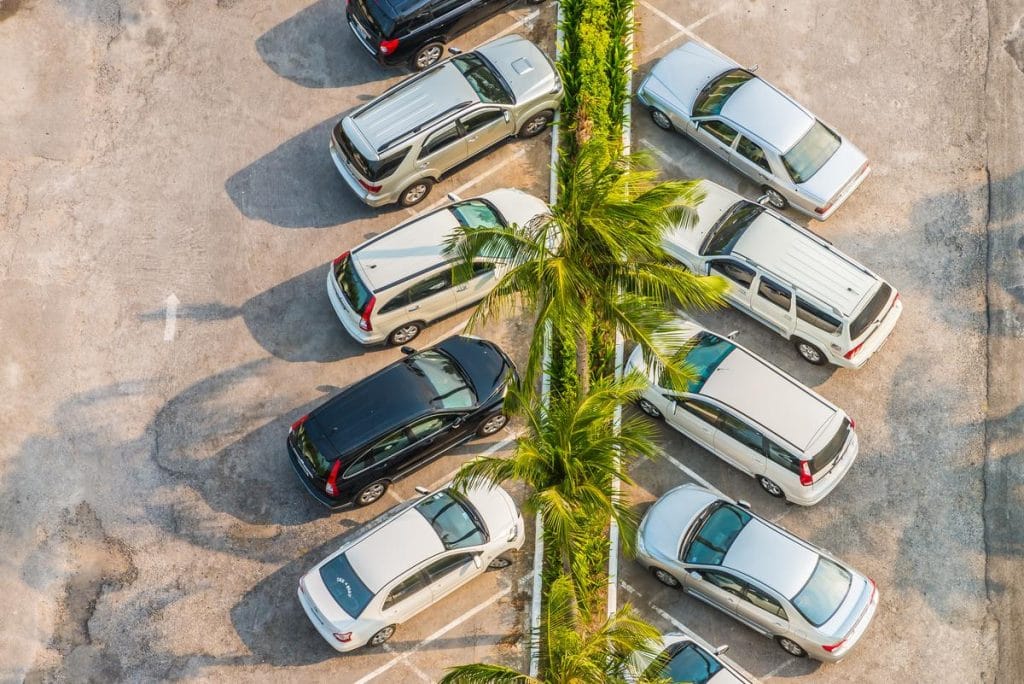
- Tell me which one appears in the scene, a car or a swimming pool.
car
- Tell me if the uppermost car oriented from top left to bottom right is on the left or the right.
right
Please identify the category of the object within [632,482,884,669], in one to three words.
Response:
car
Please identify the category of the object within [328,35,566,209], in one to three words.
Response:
car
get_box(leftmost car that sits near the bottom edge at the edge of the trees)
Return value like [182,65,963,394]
[294,473,529,654]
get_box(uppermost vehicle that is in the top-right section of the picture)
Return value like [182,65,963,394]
[636,38,870,223]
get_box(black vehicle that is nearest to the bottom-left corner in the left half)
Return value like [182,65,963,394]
[287,334,522,510]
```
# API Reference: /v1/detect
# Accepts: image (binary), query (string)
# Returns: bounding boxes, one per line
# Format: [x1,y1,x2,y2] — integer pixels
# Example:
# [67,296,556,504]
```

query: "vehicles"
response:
[287,334,522,510]
[624,324,858,507]
[342,0,548,76]
[662,188,900,375]
[322,180,550,350]
[636,38,870,223]
[632,482,884,669]
[328,35,566,209]
[294,473,529,654]
[622,637,757,684]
